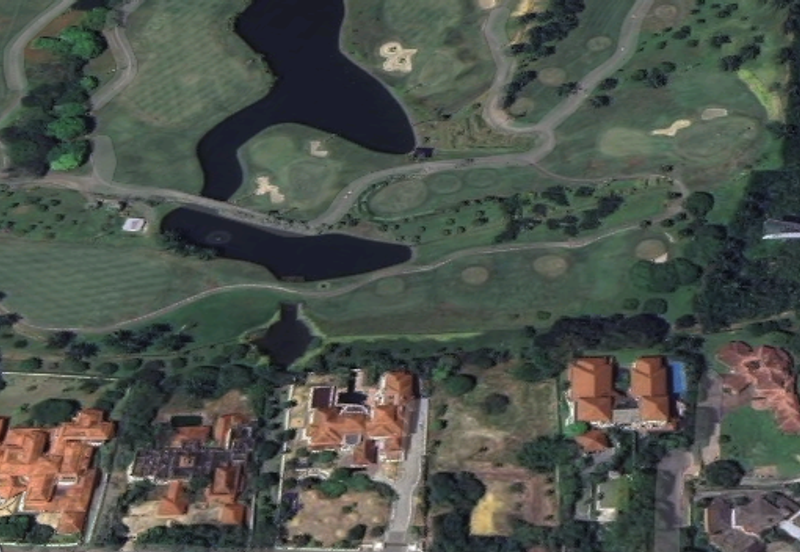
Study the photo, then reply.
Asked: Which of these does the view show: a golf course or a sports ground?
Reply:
golf course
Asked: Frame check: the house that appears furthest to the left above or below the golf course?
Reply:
below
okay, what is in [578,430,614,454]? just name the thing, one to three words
building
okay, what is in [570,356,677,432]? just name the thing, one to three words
house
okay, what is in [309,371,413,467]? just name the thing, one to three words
house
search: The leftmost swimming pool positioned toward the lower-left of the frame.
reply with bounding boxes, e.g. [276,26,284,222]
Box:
[168,413,205,428]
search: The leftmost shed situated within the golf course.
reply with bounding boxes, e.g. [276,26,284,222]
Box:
[123,219,149,237]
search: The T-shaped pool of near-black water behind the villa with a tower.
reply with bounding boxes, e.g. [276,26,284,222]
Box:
[338,375,370,404]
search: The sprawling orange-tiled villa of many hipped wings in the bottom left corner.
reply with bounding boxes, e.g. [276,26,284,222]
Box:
[0,408,114,535]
